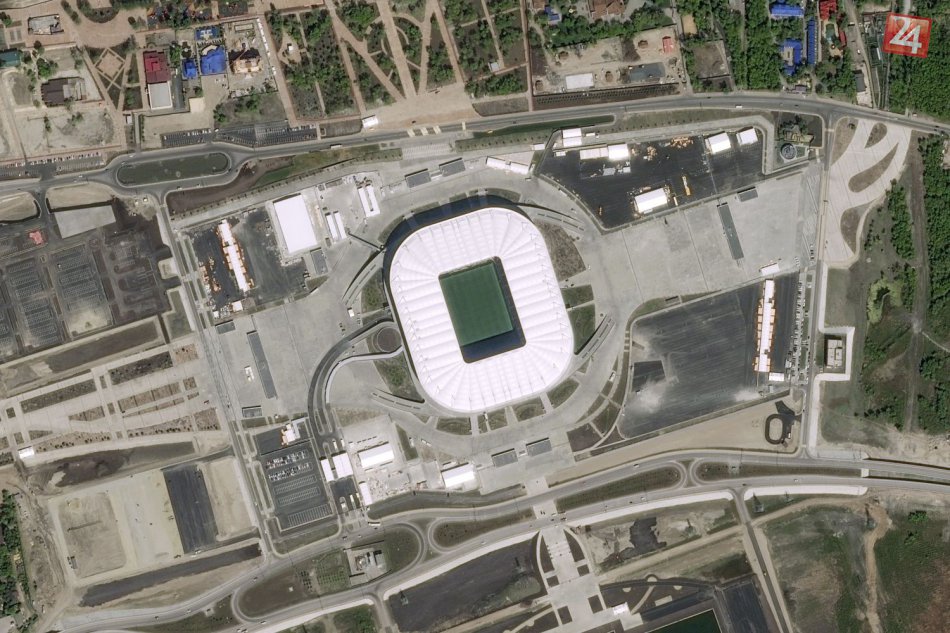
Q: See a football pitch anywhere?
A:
Yes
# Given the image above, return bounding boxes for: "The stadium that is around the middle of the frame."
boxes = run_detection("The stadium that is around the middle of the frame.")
[389,207,574,411]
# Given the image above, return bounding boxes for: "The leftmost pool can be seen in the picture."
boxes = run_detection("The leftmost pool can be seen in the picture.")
[196,23,224,40]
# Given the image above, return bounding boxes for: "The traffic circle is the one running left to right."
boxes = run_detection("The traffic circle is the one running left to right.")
[117,152,228,186]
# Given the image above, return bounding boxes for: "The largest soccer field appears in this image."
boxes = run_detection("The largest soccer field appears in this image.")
[440,257,516,348]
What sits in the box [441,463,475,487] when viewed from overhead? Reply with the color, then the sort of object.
white tent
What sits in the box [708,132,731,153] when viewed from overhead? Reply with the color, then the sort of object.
white tent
